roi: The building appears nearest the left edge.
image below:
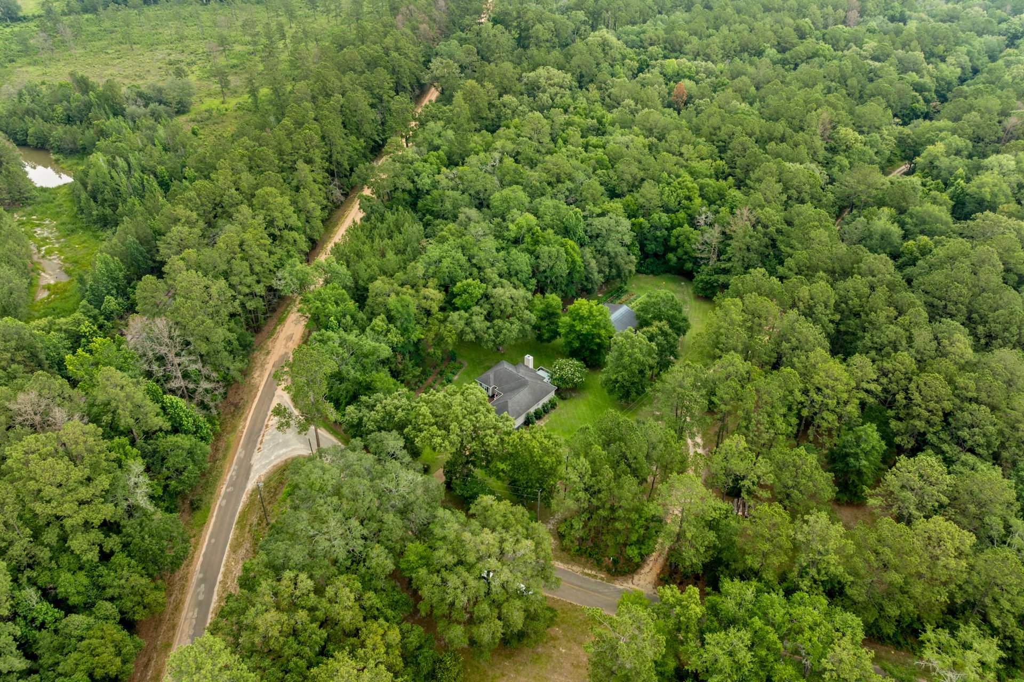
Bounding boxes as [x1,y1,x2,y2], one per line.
[475,352,563,428]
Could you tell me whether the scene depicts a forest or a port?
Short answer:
forest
